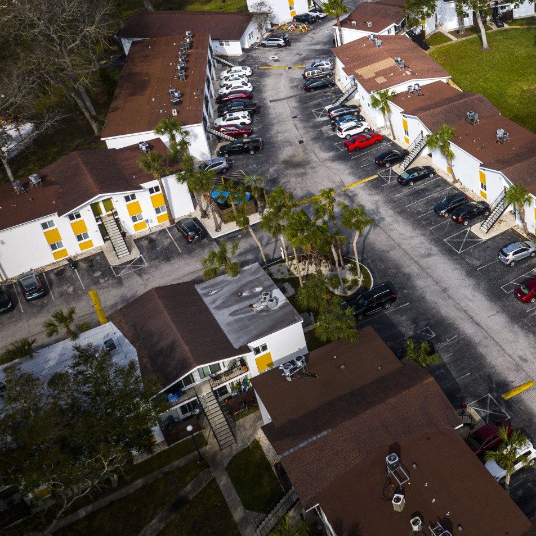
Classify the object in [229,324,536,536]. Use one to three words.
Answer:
building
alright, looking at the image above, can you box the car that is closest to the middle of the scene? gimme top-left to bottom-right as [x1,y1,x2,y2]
[176,219,206,247]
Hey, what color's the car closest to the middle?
black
